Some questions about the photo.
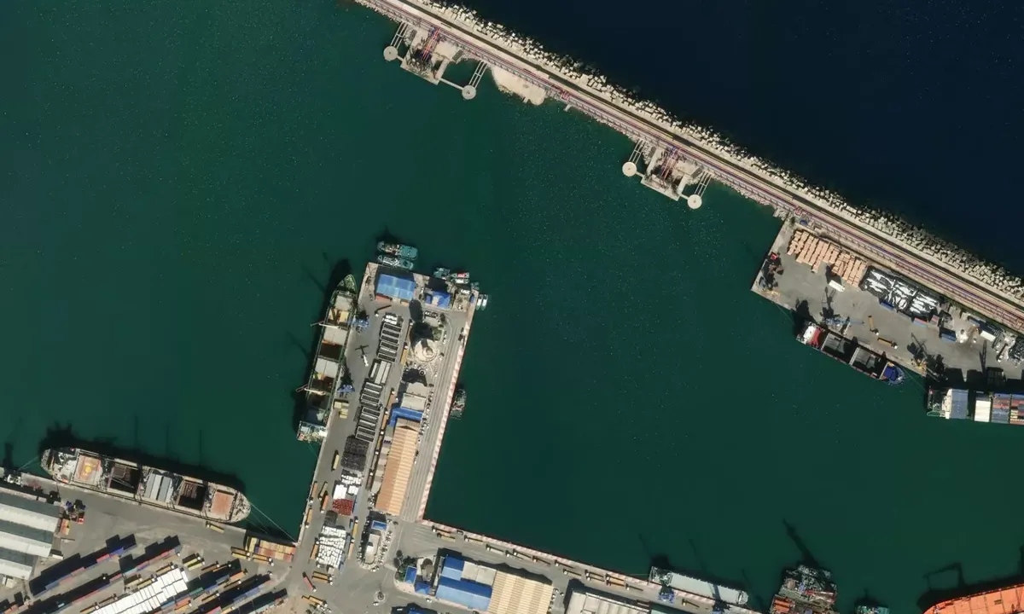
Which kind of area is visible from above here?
port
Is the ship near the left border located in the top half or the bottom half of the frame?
bottom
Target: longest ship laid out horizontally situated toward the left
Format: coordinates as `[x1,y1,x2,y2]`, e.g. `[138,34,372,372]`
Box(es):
[38,445,250,523]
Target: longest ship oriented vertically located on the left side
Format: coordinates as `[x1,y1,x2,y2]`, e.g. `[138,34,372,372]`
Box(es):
[296,274,357,445]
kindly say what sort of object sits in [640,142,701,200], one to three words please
pier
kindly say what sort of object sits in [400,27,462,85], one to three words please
pier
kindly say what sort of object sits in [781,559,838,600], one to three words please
ship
